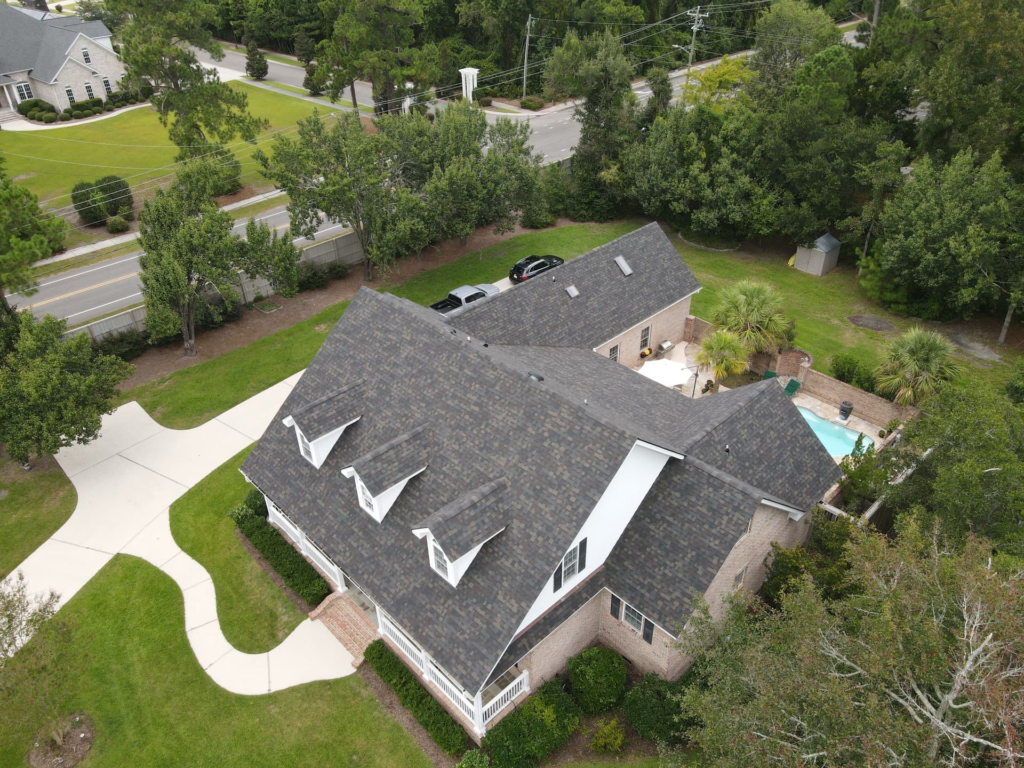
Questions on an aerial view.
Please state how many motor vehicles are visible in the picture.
2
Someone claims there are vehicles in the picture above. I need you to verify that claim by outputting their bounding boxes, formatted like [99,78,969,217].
[509,255,570,287]
[428,284,506,320]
